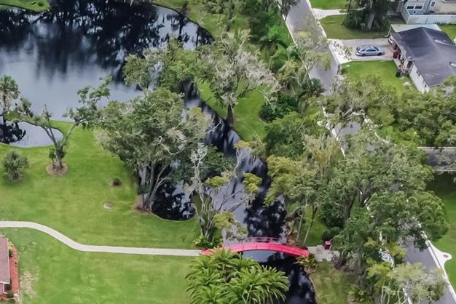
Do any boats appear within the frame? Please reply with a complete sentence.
No, the photo shows no boat.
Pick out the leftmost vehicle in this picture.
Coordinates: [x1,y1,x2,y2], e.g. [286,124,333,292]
[355,42,387,56]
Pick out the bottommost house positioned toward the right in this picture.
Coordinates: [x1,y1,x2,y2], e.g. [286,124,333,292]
[390,25,456,101]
